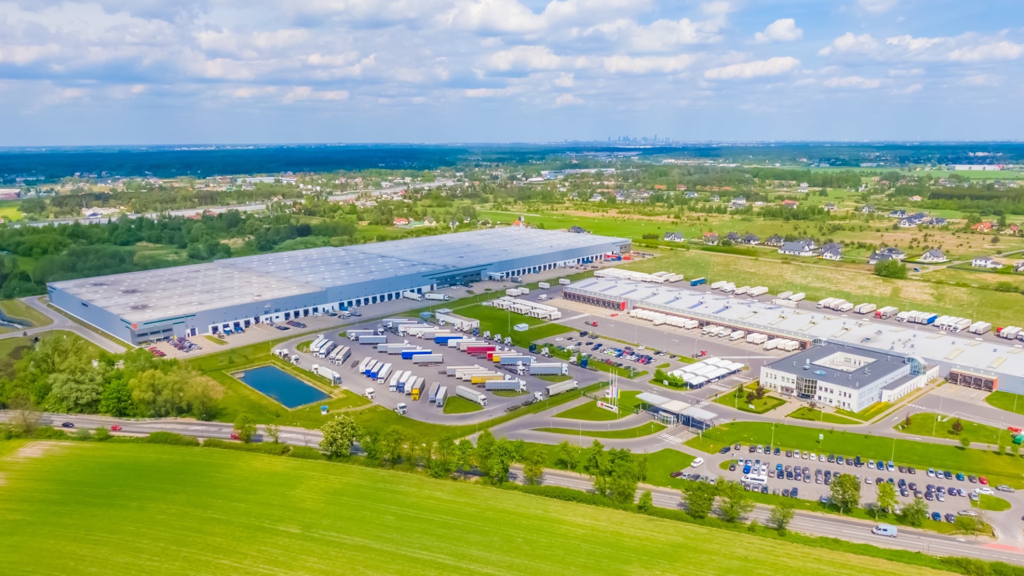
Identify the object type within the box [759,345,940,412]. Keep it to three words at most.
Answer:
building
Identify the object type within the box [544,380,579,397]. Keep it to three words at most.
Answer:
vehicle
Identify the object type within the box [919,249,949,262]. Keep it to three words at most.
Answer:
house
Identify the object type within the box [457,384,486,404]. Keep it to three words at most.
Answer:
vehicle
